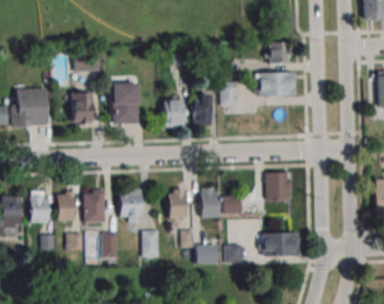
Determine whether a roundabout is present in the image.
No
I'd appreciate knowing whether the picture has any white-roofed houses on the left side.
Yes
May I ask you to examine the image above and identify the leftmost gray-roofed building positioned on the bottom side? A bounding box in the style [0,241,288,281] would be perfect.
[0,197,24,238]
